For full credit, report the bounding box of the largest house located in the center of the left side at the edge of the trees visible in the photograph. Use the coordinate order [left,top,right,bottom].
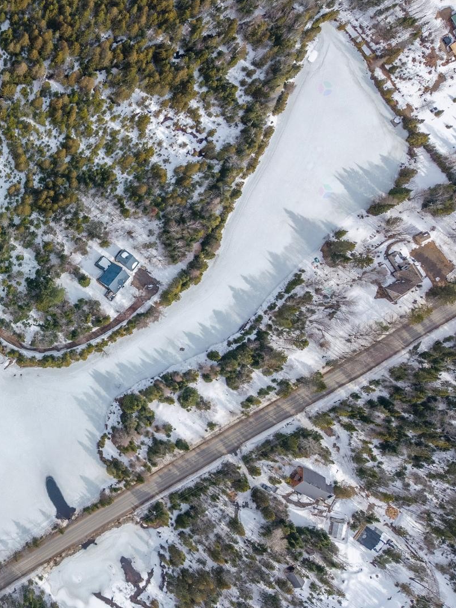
[95,255,129,298]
